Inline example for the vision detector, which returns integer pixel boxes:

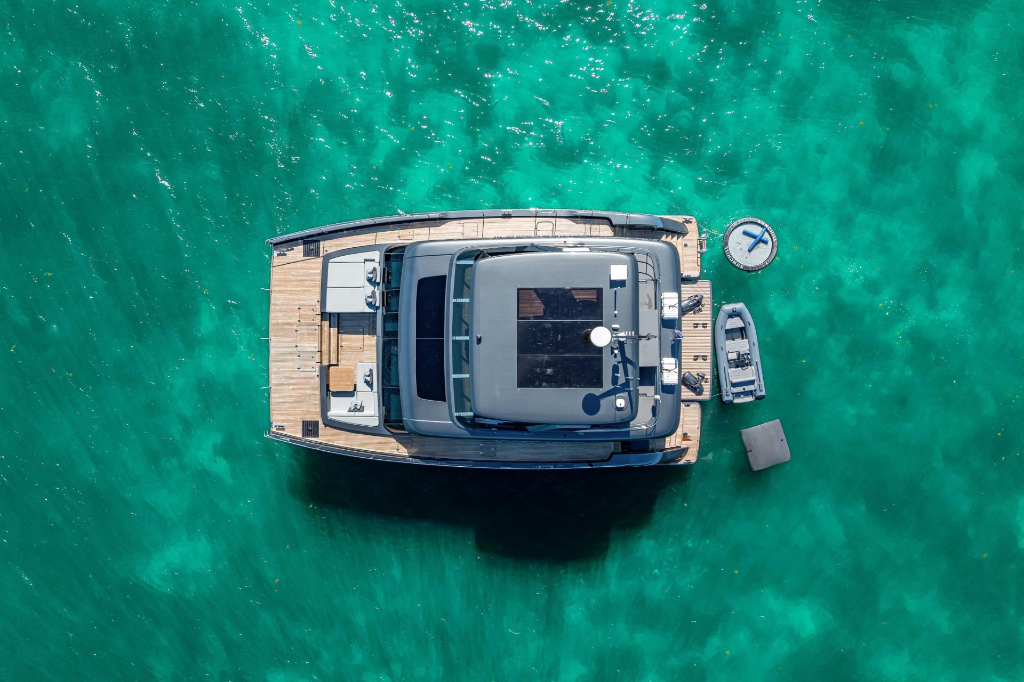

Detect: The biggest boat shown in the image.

[262,209,712,470]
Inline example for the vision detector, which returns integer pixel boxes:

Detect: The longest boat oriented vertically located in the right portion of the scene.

[715,301,766,404]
